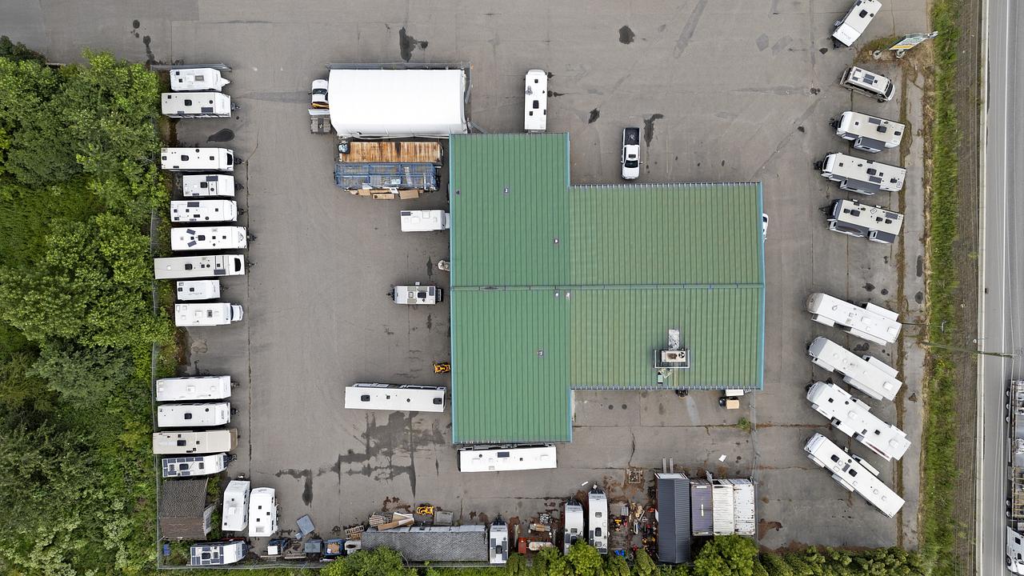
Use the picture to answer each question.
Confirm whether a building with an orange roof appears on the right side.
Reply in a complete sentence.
No, no building with an orange roof appears on the right side.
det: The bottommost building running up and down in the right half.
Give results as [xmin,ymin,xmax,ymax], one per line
[655,474,690,564]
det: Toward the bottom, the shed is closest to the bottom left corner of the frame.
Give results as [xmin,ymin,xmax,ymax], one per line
[160,477,210,539]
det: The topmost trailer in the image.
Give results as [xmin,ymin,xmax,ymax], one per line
[829,0,881,47]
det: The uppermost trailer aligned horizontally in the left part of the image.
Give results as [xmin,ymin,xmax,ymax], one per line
[171,68,232,94]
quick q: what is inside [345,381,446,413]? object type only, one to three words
camper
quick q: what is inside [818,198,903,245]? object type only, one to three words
trailer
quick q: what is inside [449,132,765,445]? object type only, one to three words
building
